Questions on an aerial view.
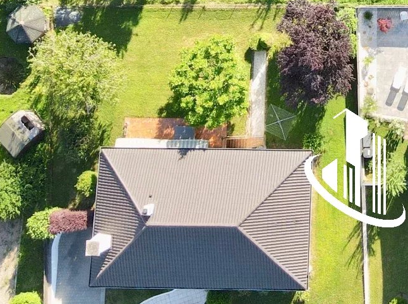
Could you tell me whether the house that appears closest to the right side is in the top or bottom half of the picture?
bottom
